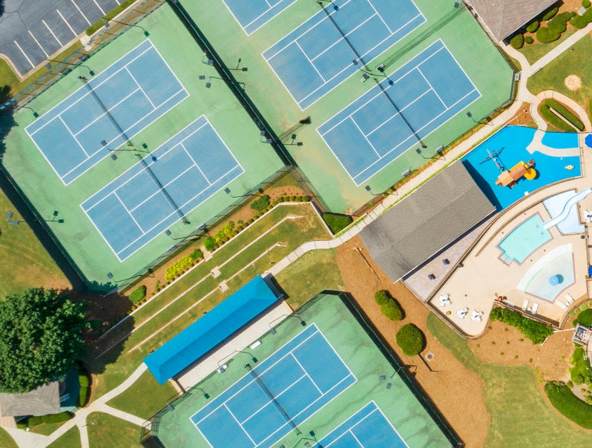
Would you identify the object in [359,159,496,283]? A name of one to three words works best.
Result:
building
